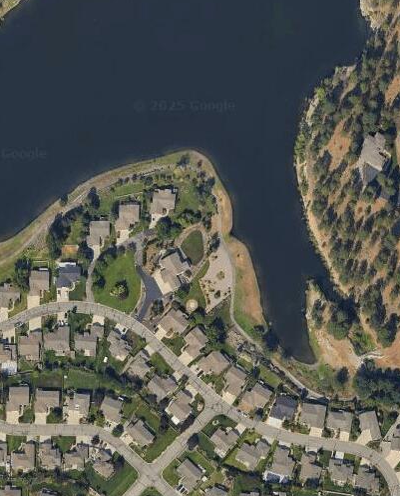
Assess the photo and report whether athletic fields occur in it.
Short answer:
No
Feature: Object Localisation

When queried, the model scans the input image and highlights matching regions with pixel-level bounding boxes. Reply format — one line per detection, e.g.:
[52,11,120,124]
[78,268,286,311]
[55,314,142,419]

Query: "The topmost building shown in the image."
[360,134,391,168]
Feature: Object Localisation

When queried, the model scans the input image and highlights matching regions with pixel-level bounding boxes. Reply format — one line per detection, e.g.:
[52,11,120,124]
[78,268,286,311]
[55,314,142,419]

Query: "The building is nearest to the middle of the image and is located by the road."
[160,250,195,290]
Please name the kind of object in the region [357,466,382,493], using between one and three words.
house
